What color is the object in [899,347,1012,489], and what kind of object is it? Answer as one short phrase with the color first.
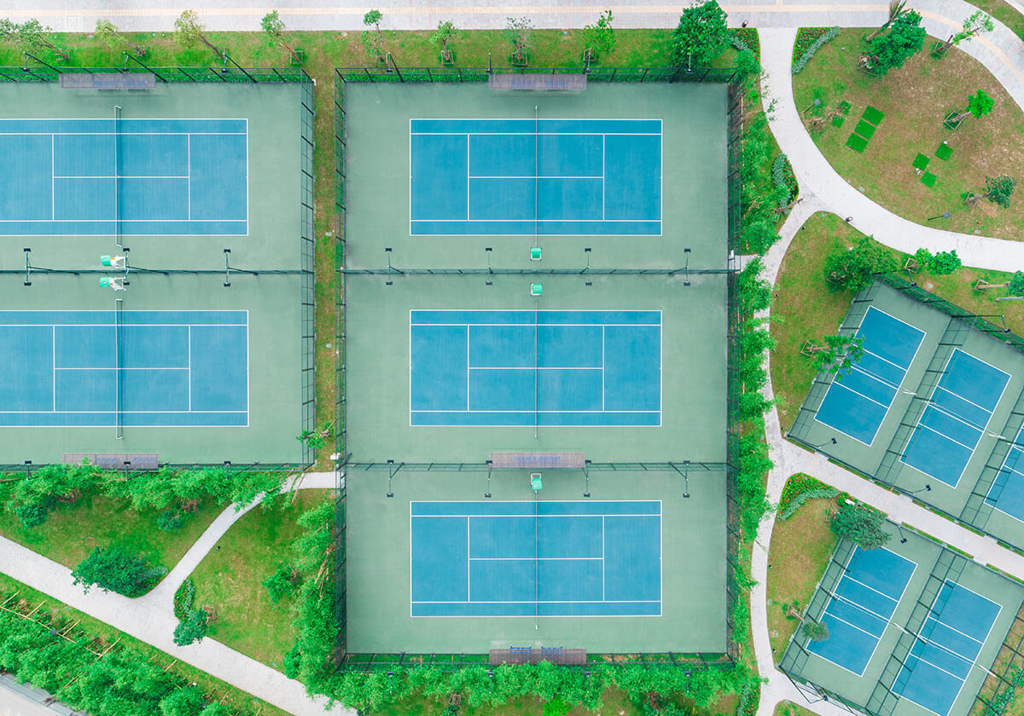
blue sports court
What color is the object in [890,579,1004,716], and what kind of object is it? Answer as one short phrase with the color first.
blue sports court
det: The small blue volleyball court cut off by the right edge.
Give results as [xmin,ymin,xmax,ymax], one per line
[984,424,1024,523]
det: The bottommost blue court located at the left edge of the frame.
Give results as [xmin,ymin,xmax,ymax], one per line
[0,310,248,427]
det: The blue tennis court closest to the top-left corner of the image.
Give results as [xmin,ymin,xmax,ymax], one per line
[0,117,248,236]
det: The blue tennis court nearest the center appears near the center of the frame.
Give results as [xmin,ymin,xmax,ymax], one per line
[410,309,663,427]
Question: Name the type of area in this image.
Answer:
sports ground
